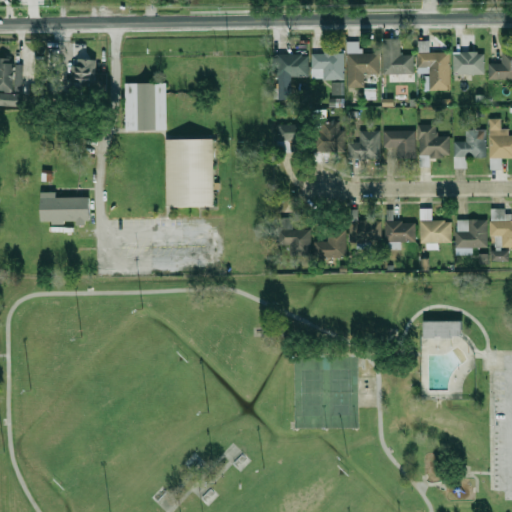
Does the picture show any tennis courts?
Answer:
Yes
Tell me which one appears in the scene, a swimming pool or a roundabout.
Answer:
swimming pool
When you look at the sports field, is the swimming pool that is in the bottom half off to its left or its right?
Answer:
on its right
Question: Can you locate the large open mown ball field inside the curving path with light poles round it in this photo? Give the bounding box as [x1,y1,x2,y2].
[14,292,329,512]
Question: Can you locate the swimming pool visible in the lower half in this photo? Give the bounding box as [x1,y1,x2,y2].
[422,338,476,400]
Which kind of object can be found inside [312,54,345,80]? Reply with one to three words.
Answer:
house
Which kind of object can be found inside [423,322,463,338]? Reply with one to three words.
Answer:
building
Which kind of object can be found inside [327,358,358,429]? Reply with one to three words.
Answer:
tennis court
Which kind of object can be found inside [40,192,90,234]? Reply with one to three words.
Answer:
house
